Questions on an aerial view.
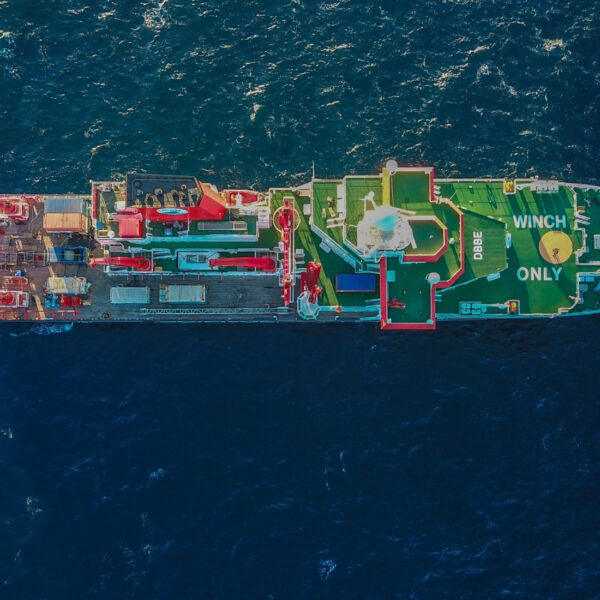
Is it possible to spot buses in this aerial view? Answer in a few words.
No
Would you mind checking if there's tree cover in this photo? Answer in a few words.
No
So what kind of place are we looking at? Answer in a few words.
port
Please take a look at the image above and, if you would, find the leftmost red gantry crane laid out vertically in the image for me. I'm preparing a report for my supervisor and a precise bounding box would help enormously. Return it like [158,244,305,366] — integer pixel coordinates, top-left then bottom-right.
[272,197,301,305]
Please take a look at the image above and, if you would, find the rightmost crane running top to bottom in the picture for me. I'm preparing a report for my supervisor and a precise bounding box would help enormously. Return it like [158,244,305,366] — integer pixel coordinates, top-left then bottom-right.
[297,260,324,319]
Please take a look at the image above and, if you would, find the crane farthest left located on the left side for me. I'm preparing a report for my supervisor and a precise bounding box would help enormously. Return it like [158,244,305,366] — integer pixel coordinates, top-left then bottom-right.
[86,255,156,271]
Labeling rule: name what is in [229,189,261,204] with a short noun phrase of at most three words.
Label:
boat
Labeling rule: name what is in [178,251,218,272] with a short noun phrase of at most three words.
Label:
boat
